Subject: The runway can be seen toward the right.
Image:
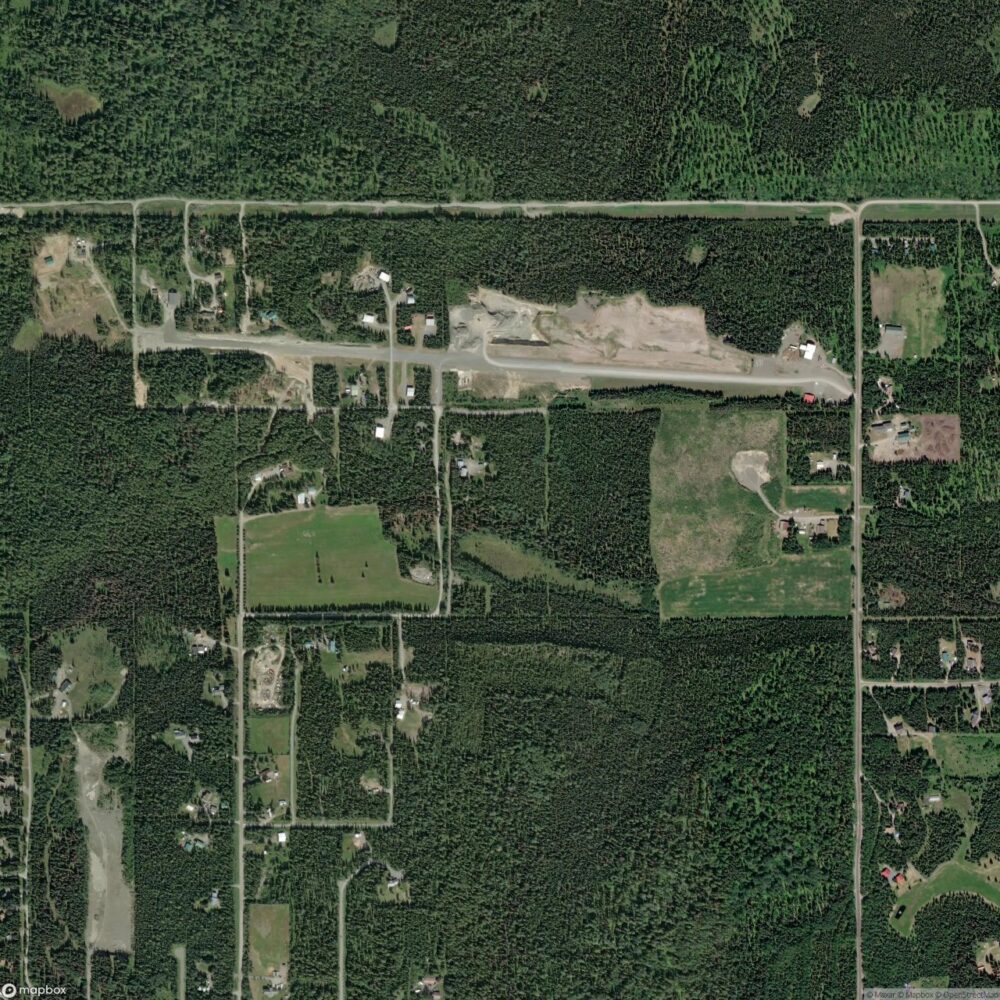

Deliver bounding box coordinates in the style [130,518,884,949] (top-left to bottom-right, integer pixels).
[492,360,815,384]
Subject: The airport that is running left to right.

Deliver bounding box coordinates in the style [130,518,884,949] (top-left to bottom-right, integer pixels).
[133,303,857,408]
